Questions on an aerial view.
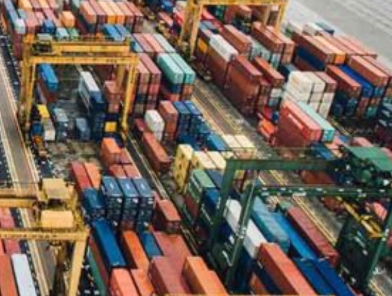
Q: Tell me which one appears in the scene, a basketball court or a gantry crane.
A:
gantry crane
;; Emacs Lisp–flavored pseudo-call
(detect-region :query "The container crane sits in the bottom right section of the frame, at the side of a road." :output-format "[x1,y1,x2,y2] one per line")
[209,146,392,290]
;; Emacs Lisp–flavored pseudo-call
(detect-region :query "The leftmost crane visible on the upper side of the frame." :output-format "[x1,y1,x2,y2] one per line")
[16,37,142,135]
